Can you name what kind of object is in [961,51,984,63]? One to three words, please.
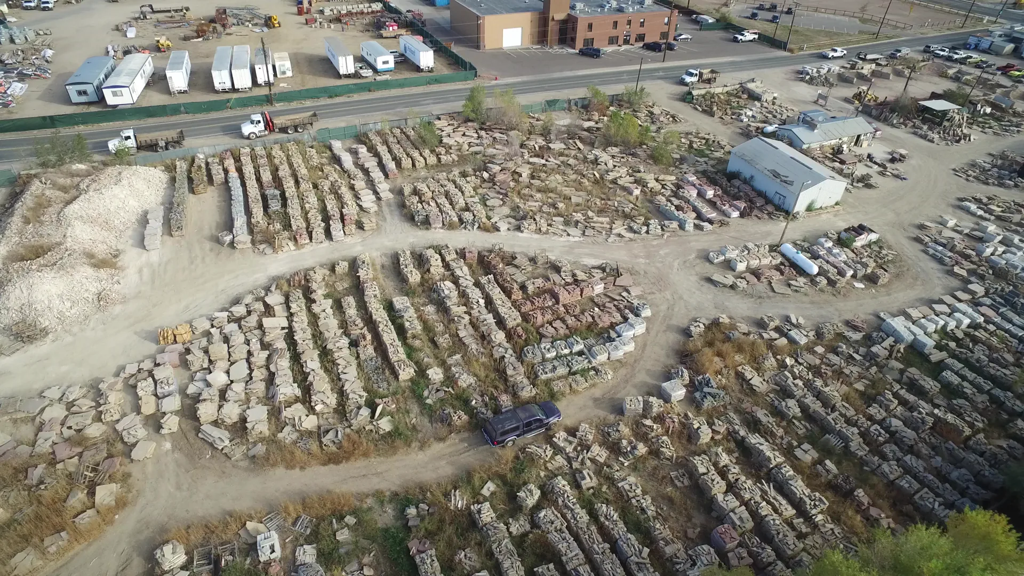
vehicle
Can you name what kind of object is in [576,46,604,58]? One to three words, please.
vehicle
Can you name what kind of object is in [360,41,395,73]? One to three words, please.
building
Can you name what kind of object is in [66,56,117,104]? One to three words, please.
building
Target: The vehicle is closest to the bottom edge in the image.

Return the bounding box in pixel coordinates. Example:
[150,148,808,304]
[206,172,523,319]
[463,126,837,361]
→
[483,400,566,447]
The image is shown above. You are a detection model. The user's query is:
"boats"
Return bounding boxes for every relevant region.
[356,60,371,73]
